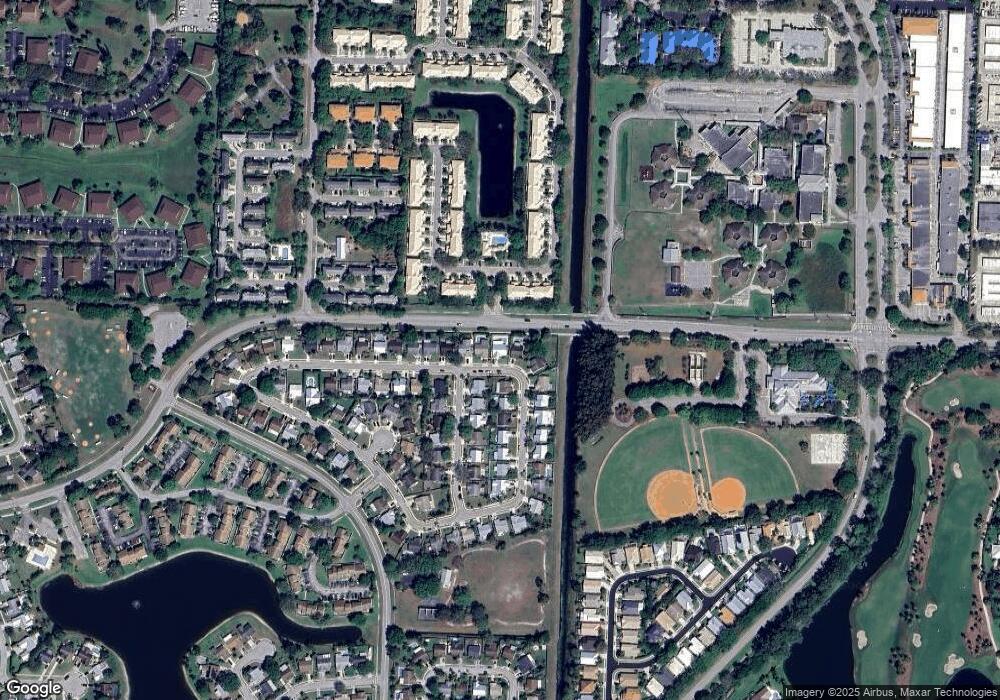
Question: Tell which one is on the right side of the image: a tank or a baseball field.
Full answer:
There is a baseball field on the right side of the image.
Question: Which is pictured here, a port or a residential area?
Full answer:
The area seen from above is a residential area.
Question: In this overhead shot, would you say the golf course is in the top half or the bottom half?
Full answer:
The golf course is in the bottom half of the image.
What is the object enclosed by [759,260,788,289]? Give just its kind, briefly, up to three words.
building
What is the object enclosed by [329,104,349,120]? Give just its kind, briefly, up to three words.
house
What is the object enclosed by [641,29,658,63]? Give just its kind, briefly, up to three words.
building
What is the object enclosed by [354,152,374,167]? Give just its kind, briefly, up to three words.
house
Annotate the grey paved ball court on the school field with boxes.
[684,262,711,289]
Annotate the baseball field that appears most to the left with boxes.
[594,416,700,528]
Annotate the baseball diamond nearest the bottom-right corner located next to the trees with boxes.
[702,427,798,514]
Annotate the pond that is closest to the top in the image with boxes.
[429,91,516,219]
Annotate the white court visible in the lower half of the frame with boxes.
[811,434,848,464]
